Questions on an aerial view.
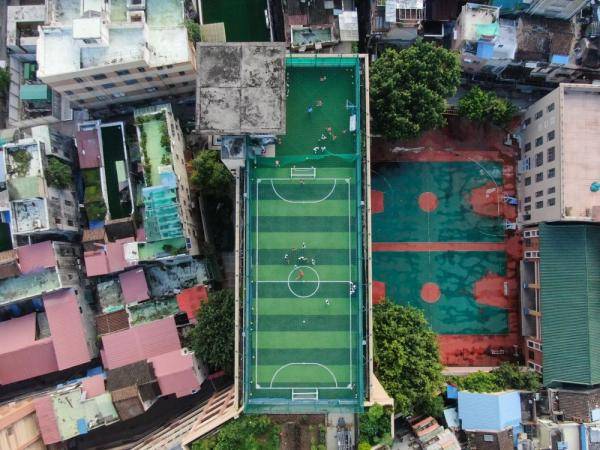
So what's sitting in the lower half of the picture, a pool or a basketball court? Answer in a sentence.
You can see a basketball court in the lower half of the picture.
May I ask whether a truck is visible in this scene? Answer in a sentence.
No, there is no truck in the image.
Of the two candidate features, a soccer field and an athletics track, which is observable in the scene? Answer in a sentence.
This aerial view contains a soccer field.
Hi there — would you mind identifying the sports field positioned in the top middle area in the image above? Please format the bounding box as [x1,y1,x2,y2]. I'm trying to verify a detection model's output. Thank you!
[250,66,357,167]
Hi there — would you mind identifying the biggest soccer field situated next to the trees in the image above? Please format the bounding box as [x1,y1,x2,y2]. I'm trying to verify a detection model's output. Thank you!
[249,168,357,401]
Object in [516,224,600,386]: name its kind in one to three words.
building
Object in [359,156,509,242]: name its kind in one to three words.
basketball court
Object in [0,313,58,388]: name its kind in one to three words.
house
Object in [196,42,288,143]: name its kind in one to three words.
building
